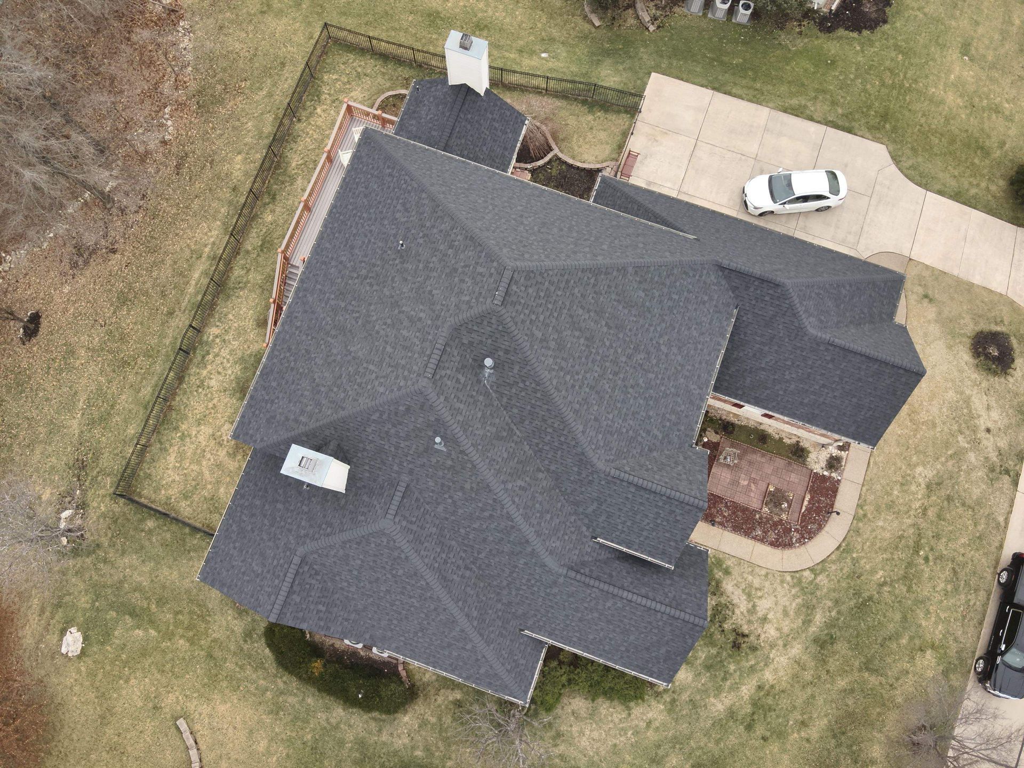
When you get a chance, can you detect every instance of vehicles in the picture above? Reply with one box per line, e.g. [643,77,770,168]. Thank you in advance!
[971,550,1024,709]
[741,167,846,217]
